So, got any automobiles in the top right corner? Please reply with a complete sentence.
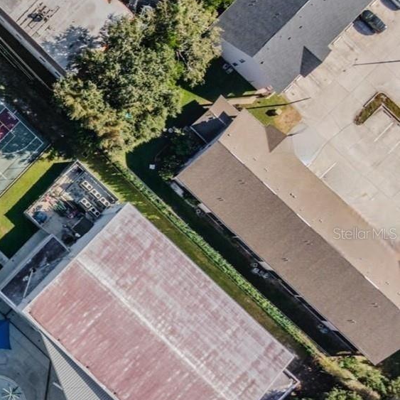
Yes, an automobile can be seen in the top right corner.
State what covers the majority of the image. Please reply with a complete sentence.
What you mostly see from above here is buildings.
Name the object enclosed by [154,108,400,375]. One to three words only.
building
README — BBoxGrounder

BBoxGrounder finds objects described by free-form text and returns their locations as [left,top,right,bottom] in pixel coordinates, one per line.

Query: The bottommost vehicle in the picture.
[362,8,389,32]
